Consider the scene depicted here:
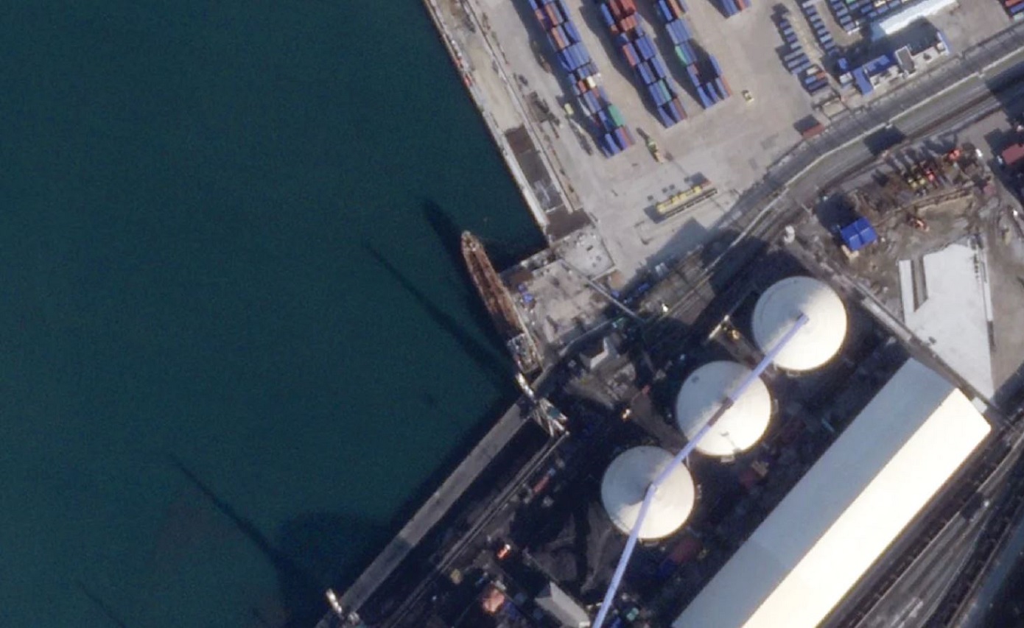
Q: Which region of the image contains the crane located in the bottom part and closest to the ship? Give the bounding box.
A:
[511,374,574,442]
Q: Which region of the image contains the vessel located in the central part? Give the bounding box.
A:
[465,230,549,379]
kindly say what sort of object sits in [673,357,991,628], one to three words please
warehouse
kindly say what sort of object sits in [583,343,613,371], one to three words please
building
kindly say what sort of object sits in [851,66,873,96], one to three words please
shed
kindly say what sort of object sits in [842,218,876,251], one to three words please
house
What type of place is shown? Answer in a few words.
port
